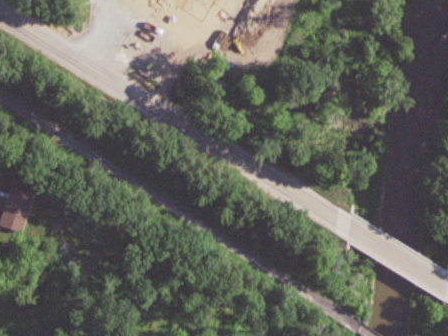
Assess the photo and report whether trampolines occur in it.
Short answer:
No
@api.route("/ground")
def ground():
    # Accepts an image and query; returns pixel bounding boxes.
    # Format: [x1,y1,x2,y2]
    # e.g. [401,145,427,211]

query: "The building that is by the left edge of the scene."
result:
[0,190,34,232]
